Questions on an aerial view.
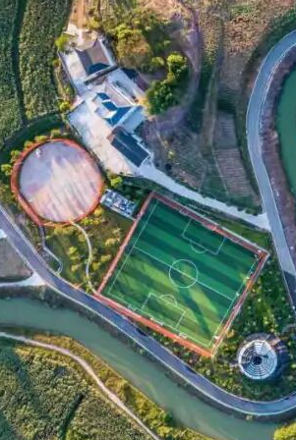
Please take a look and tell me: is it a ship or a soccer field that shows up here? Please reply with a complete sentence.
I can see a soccer field in this picture.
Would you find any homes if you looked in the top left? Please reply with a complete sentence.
Yes, in the top left there is a home.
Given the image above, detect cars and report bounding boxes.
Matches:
[135,328,146,337]
[185,365,196,375]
